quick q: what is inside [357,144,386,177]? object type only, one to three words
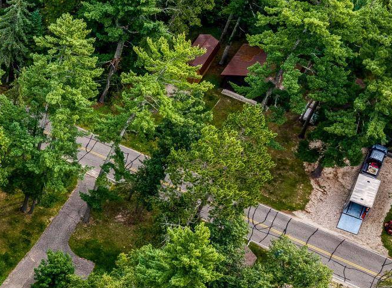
truck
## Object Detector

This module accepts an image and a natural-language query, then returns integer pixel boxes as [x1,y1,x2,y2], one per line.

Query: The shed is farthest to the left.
[179,32,219,79]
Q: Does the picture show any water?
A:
No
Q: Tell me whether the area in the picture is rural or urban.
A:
rural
